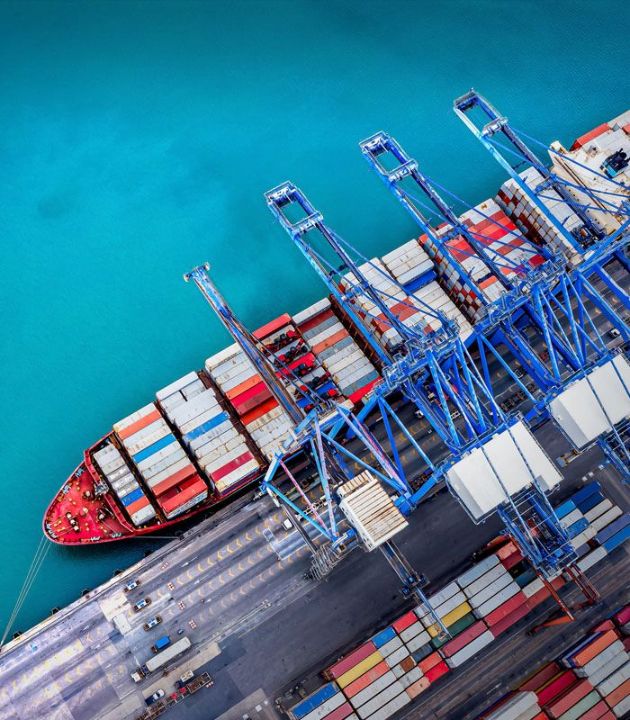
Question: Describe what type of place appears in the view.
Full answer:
What you see here is a port.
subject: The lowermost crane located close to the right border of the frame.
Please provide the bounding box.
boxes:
[472,530,603,637]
